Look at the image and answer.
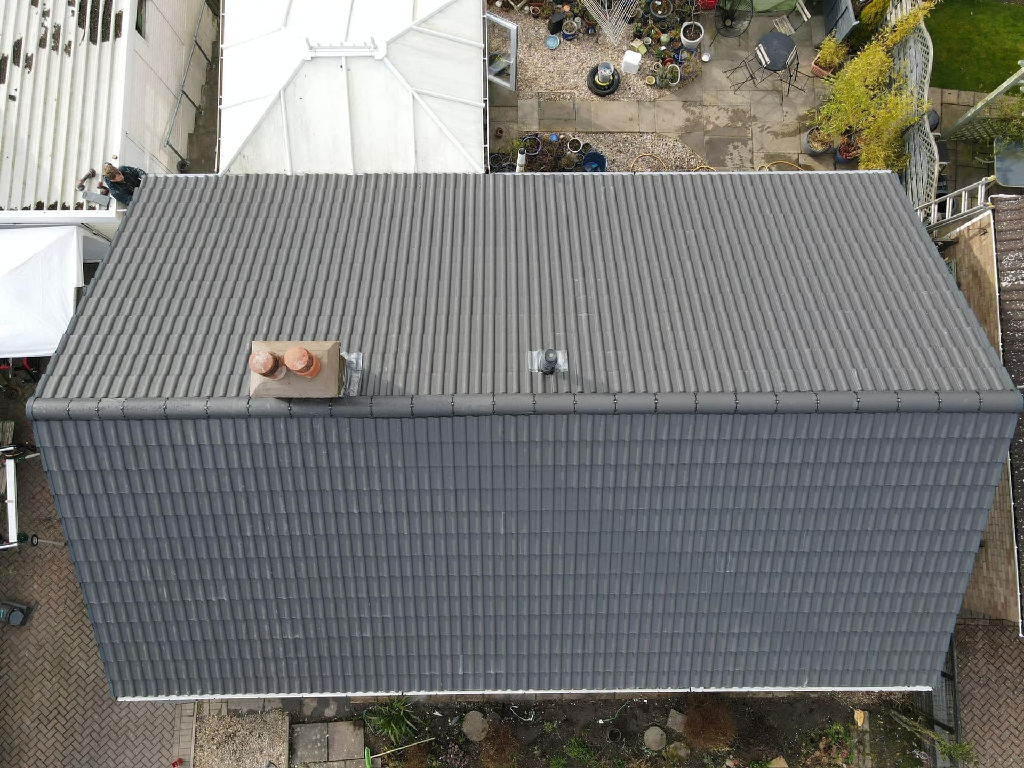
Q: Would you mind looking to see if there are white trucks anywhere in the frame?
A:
No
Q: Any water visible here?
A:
No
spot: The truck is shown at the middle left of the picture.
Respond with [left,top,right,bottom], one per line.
[15,353,39,383]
